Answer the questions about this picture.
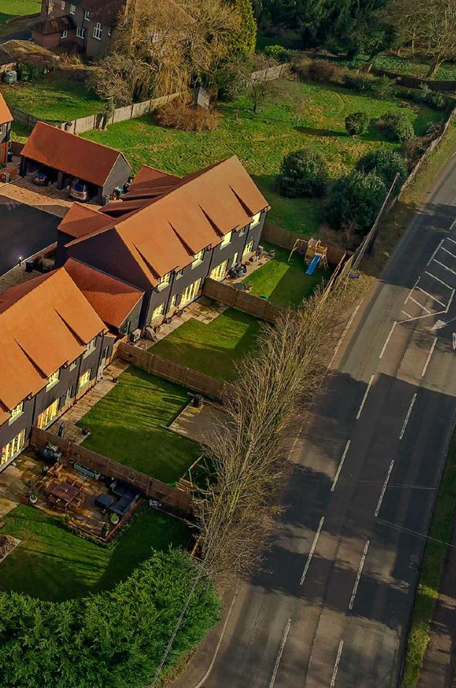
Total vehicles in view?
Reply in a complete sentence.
There are 2 vehicles in the image.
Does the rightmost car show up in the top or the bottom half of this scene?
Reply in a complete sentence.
You can find the rightmost car in the top half.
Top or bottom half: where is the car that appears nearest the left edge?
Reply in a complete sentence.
Seen from above, the car that appears nearest the left edge lies in the top half of the view.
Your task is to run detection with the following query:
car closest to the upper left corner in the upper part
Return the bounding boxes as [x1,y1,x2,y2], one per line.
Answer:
[30,165,59,188]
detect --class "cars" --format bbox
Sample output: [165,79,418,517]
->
[30,165,59,188]
[67,177,94,203]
